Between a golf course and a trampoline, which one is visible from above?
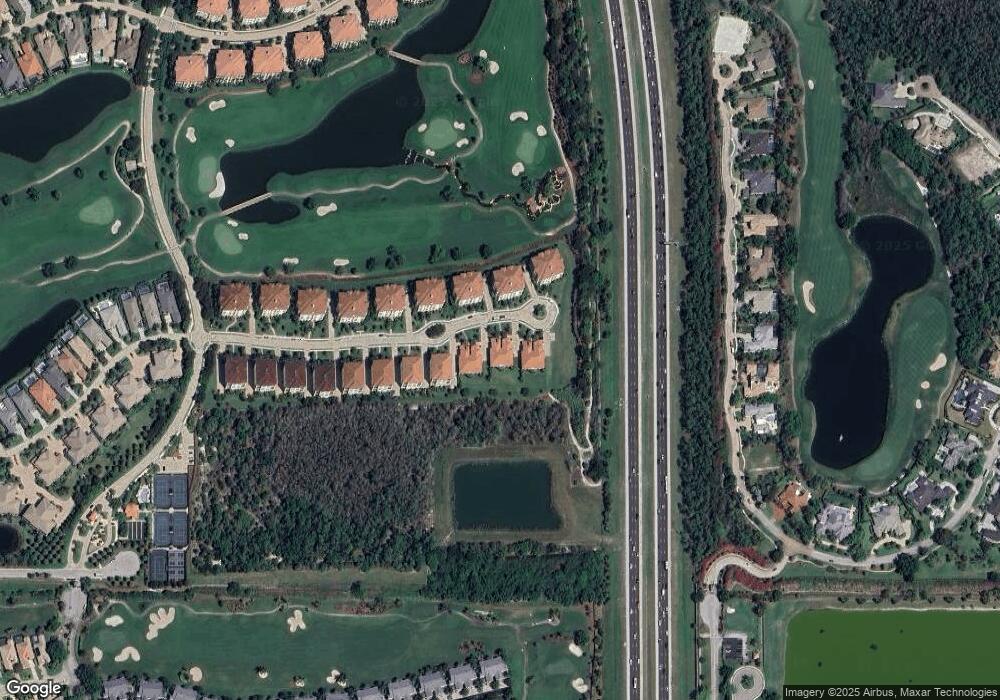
golf course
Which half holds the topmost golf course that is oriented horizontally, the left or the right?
left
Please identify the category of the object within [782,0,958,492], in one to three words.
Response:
golf course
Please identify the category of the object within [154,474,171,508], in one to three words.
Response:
tennis court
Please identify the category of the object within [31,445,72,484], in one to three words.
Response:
house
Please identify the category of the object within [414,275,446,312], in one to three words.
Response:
house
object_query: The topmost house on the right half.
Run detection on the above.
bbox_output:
[747,50,778,79]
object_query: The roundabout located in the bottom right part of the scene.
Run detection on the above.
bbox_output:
[731,665,765,698]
